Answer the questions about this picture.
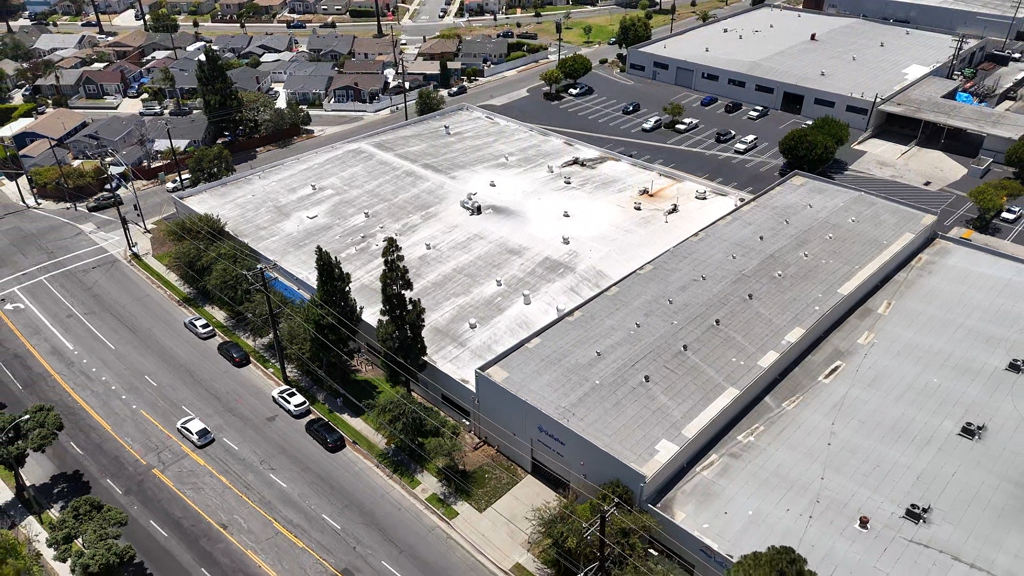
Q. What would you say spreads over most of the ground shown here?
buildings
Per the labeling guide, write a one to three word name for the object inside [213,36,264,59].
house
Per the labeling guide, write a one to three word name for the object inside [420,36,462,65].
house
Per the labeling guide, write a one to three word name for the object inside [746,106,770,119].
vehicle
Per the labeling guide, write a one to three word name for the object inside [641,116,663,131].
car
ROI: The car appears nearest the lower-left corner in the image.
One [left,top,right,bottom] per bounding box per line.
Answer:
[178,417,213,450]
